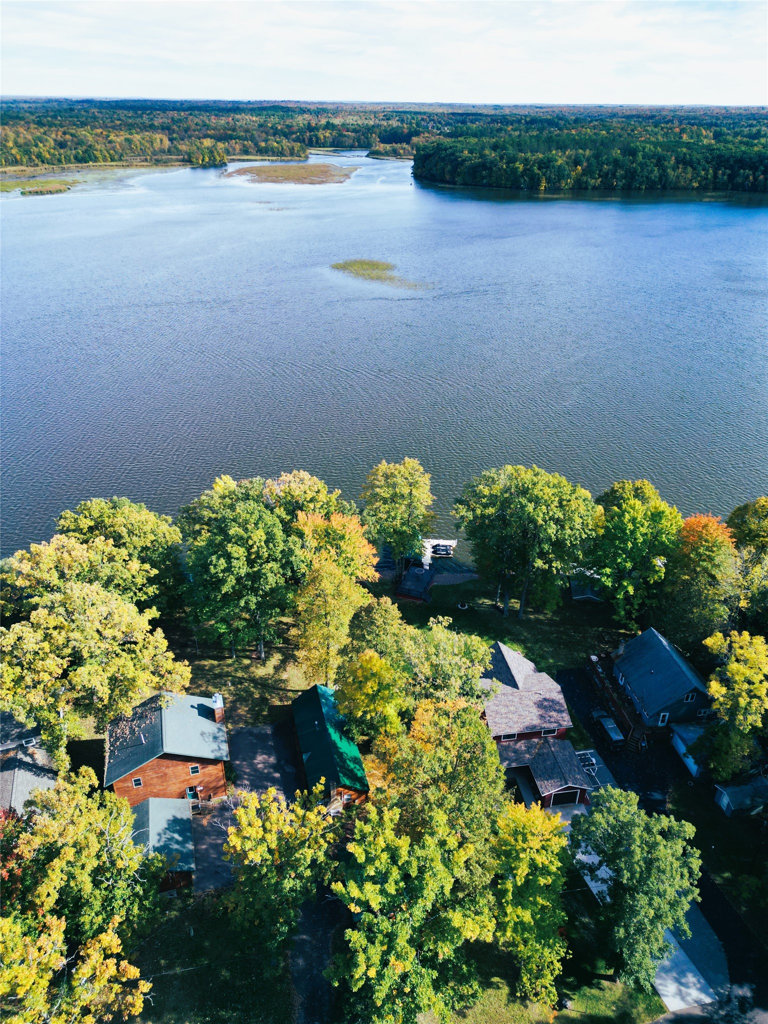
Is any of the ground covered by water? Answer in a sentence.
Yes, water shows up in the scene.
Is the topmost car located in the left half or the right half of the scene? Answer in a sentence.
The topmost car sits on the right side.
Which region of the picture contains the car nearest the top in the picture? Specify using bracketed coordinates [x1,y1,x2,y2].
[593,708,626,745]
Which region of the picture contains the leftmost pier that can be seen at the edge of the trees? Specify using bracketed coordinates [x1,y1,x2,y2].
[423,536,459,568]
